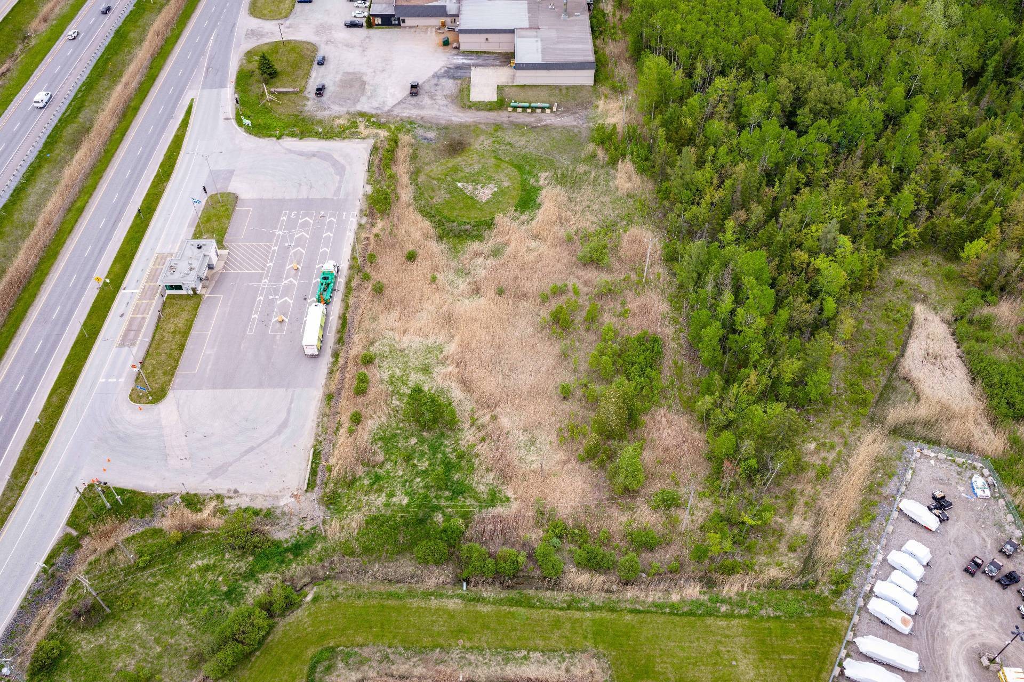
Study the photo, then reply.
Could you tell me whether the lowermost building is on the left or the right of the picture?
left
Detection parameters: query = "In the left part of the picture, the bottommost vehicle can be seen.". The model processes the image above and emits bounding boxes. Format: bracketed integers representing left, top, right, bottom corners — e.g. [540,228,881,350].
[304,305,325,356]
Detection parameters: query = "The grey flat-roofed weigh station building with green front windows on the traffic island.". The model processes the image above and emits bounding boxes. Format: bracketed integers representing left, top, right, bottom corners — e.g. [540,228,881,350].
[157,238,218,296]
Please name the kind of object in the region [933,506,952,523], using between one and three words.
vehicle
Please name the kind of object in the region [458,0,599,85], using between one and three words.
building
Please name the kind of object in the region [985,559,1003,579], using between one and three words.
vehicle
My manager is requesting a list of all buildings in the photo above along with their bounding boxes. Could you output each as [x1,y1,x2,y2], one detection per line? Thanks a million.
[369,0,401,26]
[458,0,599,85]
[157,238,218,296]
